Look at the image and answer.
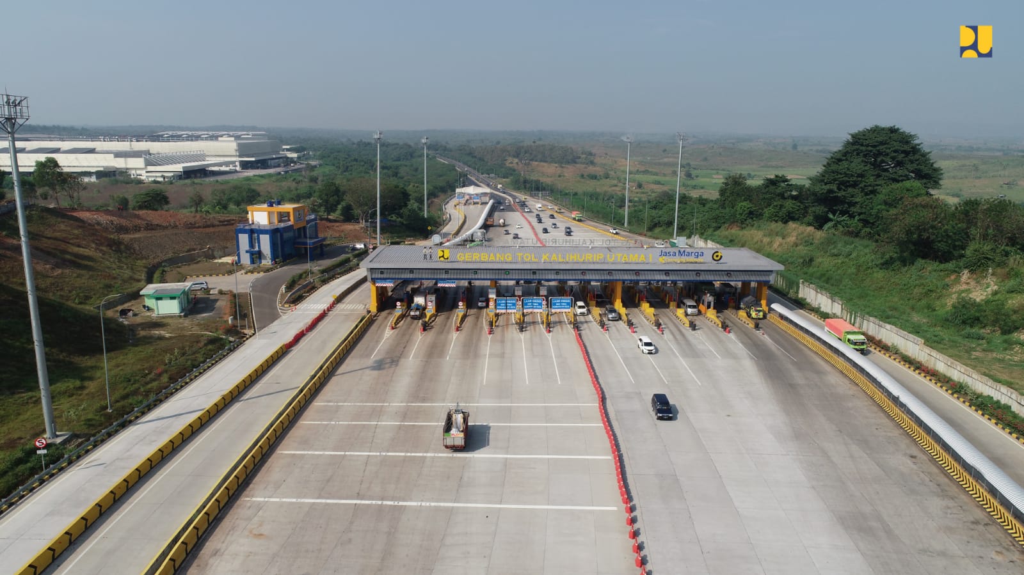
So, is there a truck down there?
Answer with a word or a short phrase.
Yes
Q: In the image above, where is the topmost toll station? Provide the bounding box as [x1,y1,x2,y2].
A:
[454,184,492,204]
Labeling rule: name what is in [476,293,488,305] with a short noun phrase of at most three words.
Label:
vehicle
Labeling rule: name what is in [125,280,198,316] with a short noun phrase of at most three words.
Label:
building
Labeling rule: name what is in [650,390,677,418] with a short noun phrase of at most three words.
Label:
car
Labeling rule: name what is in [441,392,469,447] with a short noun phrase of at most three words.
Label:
truck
